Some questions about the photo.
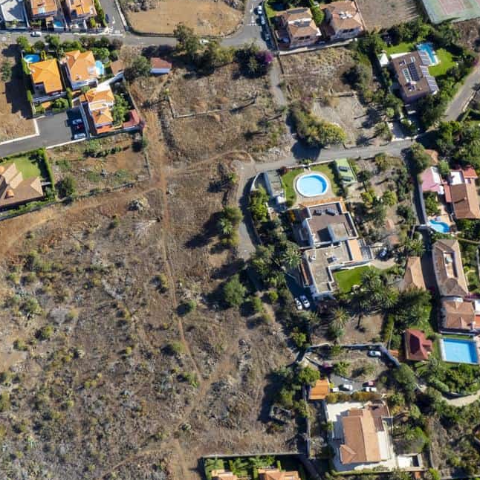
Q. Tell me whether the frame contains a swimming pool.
Yes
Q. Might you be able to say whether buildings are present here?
Yes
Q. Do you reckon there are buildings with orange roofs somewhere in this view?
Yes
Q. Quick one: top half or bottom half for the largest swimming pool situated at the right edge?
bottom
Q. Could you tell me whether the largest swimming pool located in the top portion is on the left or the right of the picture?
right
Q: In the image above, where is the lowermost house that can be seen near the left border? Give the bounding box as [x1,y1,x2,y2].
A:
[0,162,44,207]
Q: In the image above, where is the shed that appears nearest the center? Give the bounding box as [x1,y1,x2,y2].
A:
[265,169,287,207]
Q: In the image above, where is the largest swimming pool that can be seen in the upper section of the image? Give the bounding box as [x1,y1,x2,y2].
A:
[295,161,337,200]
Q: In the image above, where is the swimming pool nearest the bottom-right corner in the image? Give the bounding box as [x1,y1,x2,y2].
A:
[439,338,479,365]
